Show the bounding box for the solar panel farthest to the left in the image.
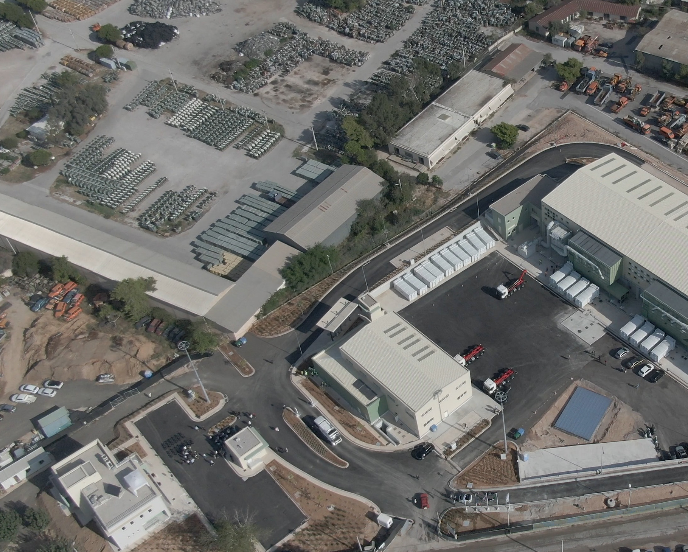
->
[102,481,123,499]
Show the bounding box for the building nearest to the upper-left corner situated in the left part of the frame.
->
[26,117,63,148]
